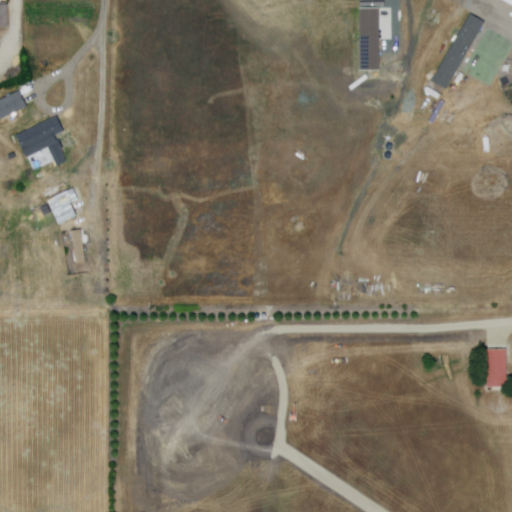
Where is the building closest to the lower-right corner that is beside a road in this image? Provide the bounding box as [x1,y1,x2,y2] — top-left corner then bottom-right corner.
[488,350,508,387]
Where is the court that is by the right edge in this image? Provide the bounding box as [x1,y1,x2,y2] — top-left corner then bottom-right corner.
[467,30,511,84]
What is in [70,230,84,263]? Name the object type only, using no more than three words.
house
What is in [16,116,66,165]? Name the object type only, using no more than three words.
house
